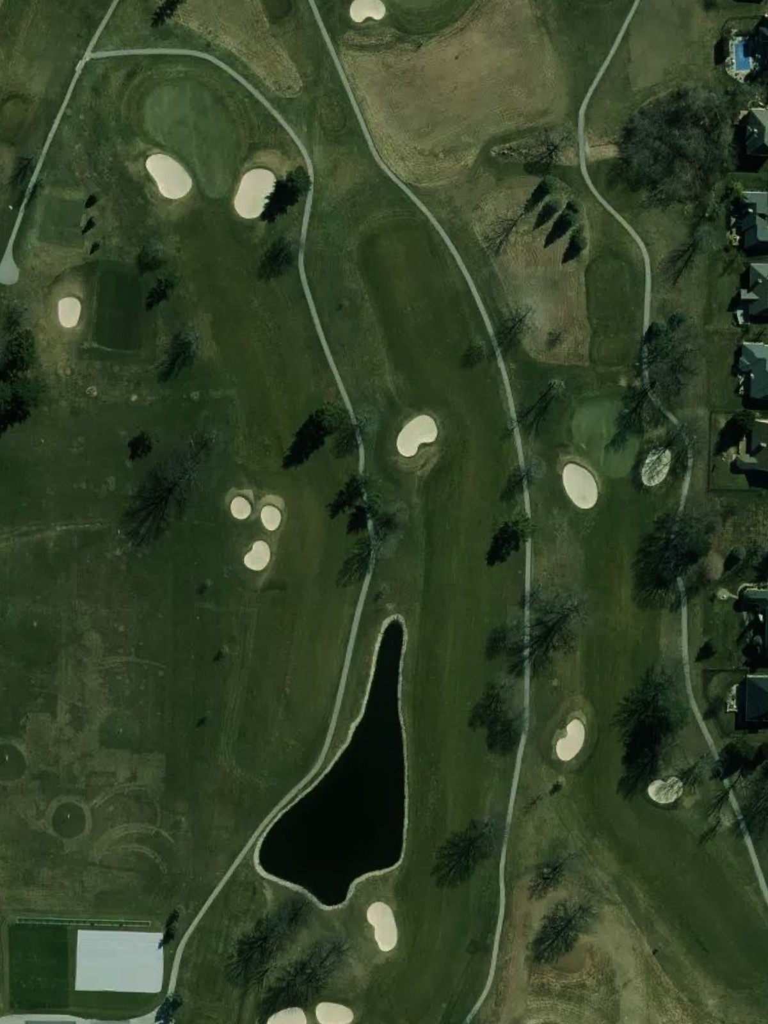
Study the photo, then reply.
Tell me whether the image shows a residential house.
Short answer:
Yes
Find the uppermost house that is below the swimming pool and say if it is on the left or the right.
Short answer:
right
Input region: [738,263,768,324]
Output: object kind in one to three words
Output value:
house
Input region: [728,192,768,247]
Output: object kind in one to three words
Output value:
house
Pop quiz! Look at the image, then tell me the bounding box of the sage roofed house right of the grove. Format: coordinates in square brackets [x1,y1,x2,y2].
[734,108,768,154]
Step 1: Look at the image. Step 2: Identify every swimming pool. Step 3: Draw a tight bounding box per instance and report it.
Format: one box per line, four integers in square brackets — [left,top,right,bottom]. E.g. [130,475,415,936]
[734,42,751,71]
